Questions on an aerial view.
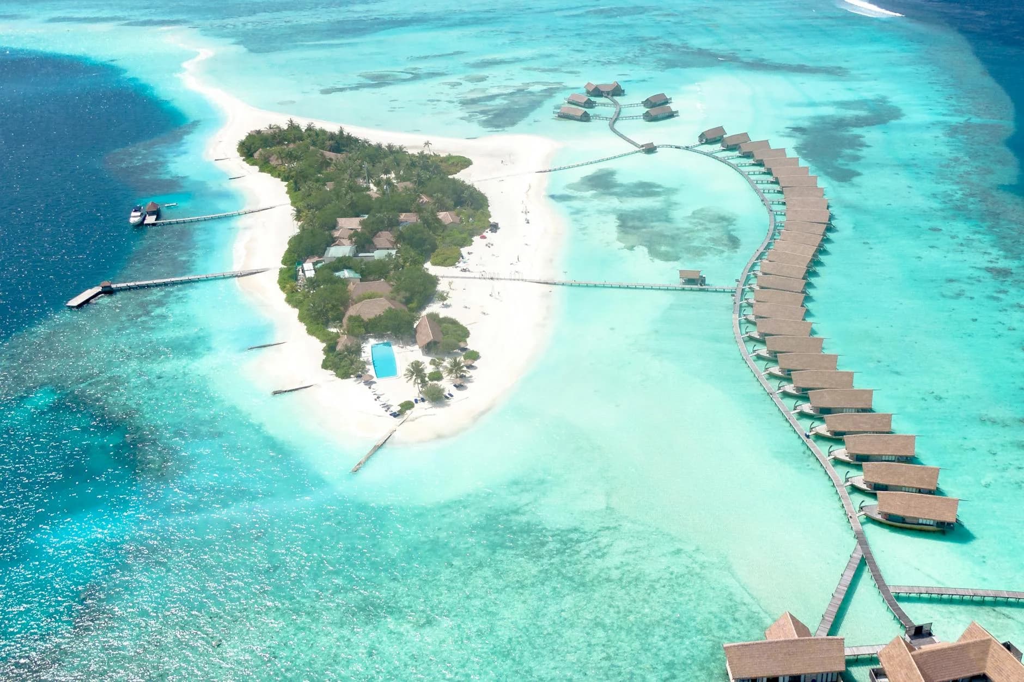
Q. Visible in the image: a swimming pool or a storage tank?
swimming pool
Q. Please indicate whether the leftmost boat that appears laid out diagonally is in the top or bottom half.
top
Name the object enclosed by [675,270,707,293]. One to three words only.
building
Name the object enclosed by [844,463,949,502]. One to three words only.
house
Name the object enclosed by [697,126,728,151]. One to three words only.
house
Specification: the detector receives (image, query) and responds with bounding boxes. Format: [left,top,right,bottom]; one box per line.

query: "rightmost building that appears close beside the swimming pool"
[413,316,446,360]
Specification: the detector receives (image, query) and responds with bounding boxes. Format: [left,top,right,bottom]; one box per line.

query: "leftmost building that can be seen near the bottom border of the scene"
[716,611,847,682]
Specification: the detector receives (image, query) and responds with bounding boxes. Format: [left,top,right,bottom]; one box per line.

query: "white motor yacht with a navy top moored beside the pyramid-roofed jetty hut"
[129,198,150,223]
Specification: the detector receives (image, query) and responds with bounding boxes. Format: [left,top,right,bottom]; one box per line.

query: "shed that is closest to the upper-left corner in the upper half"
[144,202,164,228]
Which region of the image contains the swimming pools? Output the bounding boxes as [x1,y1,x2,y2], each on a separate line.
[369,341,400,381]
